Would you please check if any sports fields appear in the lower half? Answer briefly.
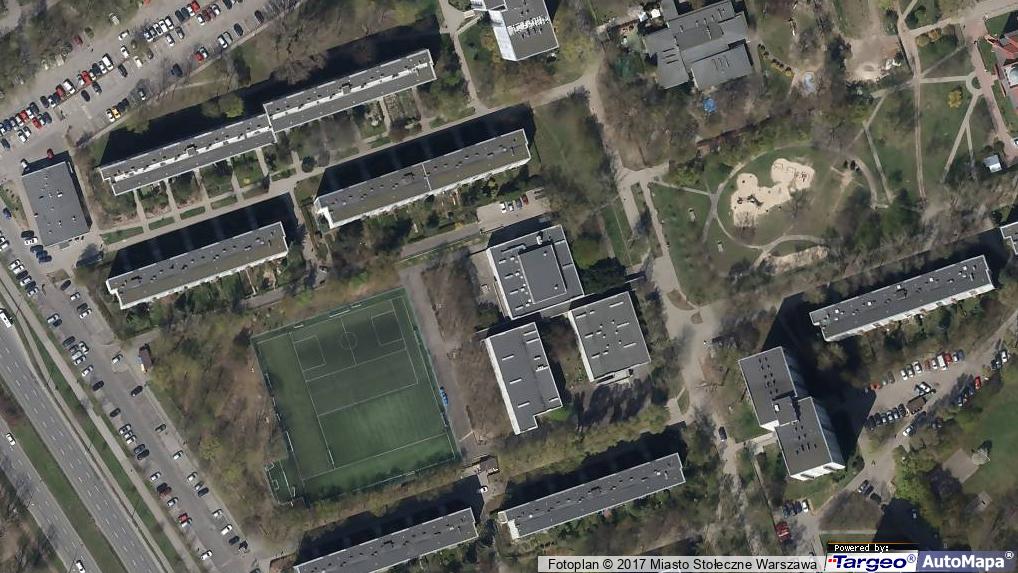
Yes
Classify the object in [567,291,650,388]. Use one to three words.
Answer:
building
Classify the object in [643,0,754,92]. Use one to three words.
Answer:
building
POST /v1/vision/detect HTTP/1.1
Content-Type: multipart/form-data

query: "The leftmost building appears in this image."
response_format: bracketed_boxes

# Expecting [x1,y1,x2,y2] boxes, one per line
[23,162,90,248]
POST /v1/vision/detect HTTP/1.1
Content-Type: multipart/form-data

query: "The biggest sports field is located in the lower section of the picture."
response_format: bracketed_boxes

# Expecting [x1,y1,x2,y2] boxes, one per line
[251,287,461,506]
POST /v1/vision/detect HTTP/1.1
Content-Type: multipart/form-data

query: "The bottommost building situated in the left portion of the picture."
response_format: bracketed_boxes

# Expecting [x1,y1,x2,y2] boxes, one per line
[294,508,478,573]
